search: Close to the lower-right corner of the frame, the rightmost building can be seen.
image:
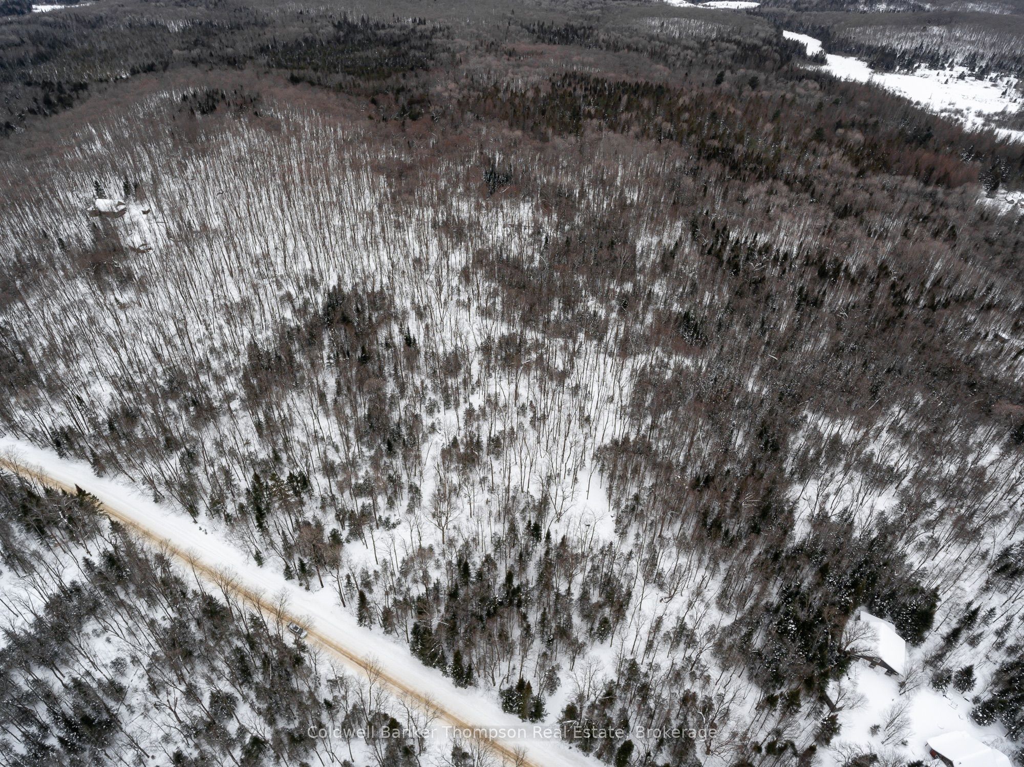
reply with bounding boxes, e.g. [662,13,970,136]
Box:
[929,730,1019,767]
